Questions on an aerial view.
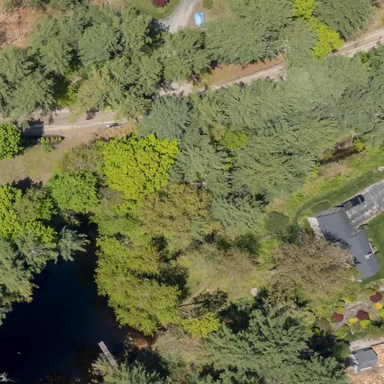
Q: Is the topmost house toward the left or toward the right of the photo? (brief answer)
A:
right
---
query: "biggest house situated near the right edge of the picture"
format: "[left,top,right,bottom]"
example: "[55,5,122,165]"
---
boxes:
[312,205,379,280]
